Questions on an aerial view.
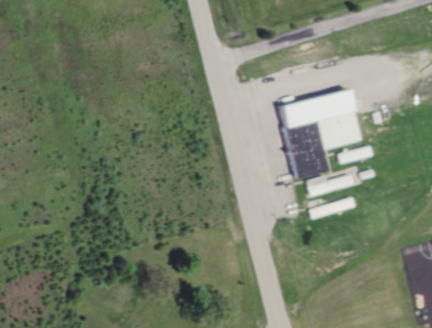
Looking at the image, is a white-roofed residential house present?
Yes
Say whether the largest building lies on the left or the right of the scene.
right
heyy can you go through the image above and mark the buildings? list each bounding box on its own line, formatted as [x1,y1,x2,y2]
[310,196,356,218]
[279,89,364,180]
[309,175,354,196]
[338,146,373,164]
